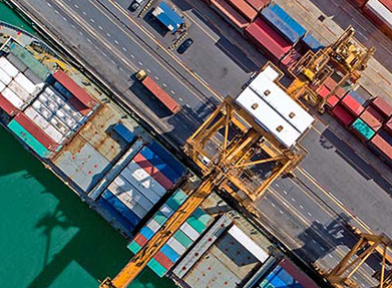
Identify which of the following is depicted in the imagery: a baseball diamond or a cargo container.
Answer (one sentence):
The one in the frame is a cargo container.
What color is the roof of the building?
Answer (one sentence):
The roof over the building appears blue.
